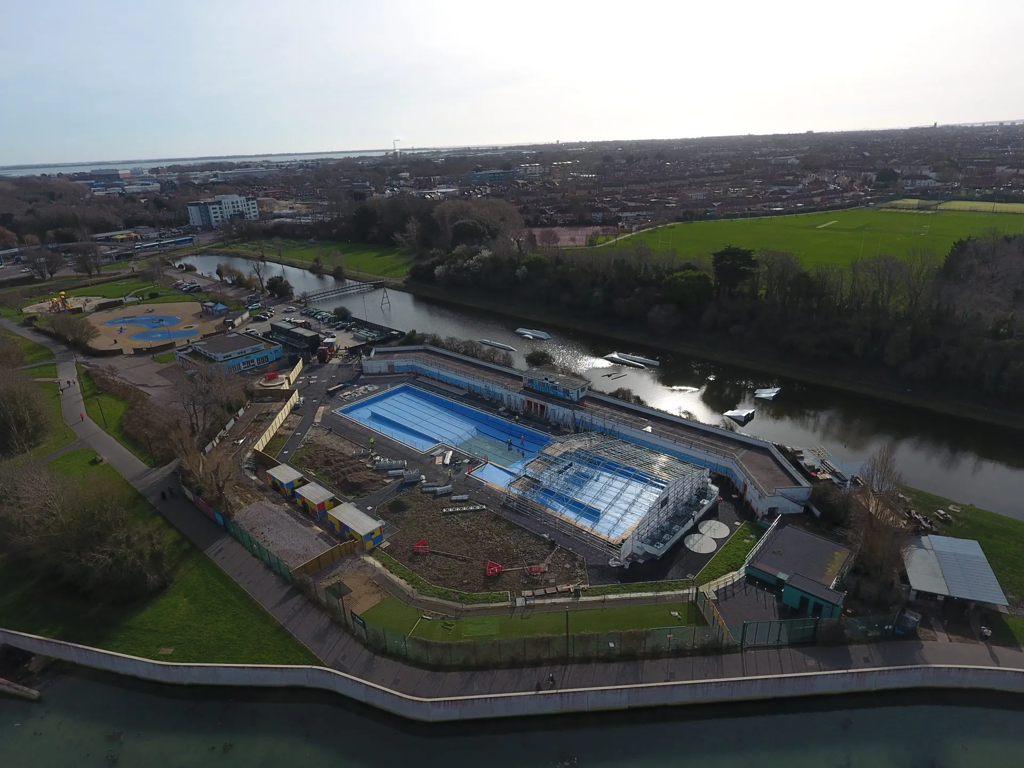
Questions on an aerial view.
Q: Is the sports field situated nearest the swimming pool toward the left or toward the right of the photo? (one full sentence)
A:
The sports field situated nearest the swimming pool appears in the right half of the scene.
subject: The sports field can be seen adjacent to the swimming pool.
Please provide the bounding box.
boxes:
[549,207,1024,308]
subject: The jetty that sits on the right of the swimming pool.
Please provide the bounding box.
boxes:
[798,447,865,489]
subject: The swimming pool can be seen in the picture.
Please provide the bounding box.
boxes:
[326,380,678,542]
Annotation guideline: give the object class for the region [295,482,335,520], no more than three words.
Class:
building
